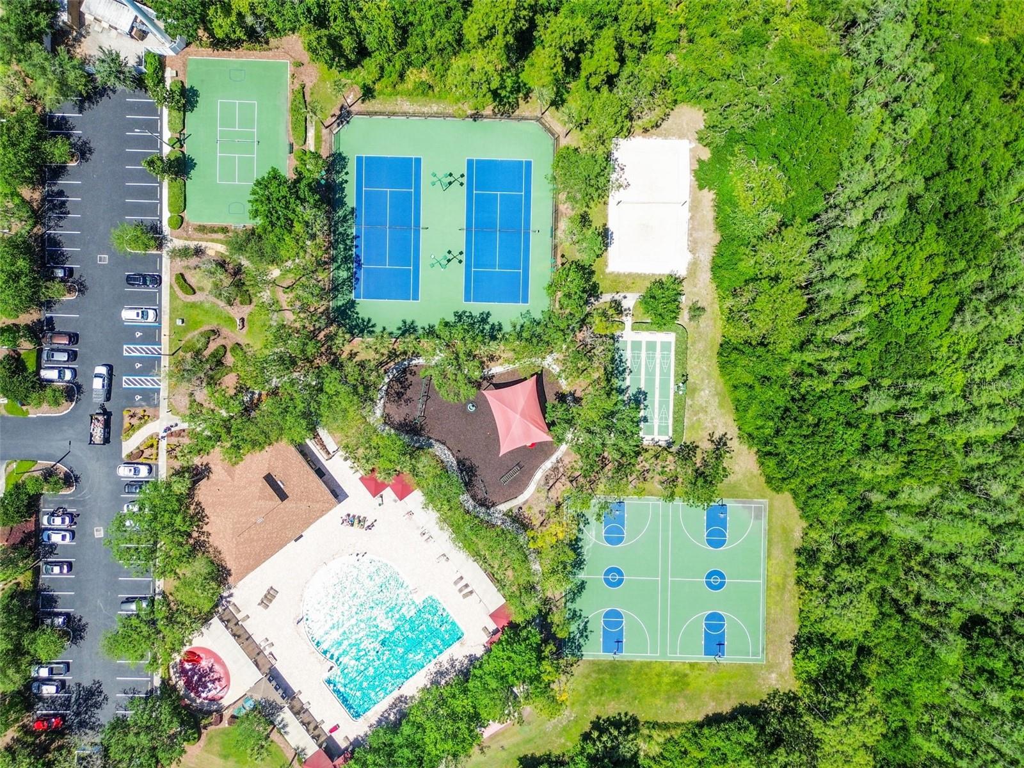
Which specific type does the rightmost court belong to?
basketball court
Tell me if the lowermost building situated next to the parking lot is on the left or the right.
left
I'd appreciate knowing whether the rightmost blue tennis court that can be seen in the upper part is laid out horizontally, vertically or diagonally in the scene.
vertically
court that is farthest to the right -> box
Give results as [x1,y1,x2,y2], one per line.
[668,503,764,658]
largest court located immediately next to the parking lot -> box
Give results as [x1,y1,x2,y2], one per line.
[186,57,289,225]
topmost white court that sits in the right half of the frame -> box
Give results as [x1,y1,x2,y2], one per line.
[608,139,688,275]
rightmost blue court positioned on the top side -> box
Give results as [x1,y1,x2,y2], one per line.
[459,158,535,304]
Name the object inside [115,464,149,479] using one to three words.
car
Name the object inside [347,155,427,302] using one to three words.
tennis court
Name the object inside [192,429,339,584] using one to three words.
building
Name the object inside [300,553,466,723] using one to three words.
swimming pool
